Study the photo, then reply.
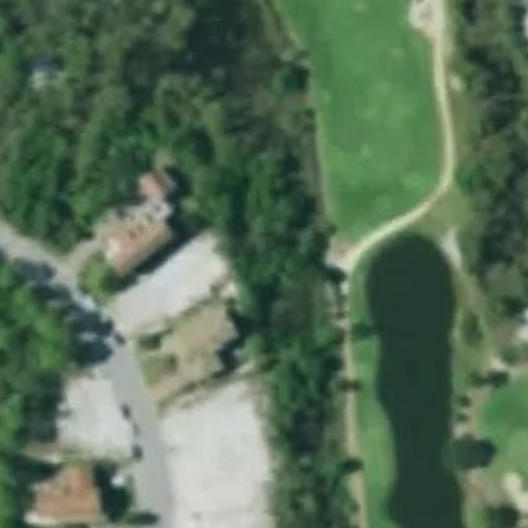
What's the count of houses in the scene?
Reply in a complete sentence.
I count 3 houses.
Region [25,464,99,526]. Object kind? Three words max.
house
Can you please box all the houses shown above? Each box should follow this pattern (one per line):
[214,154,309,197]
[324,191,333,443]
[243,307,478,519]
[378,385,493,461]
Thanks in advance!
[163,308,240,386]
[99,193,170,268]
[25,464,99,526]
